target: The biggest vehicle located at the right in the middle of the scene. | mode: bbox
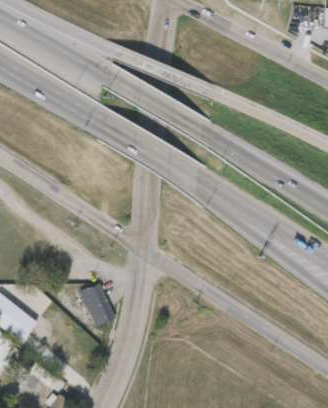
[294,238,313,252]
